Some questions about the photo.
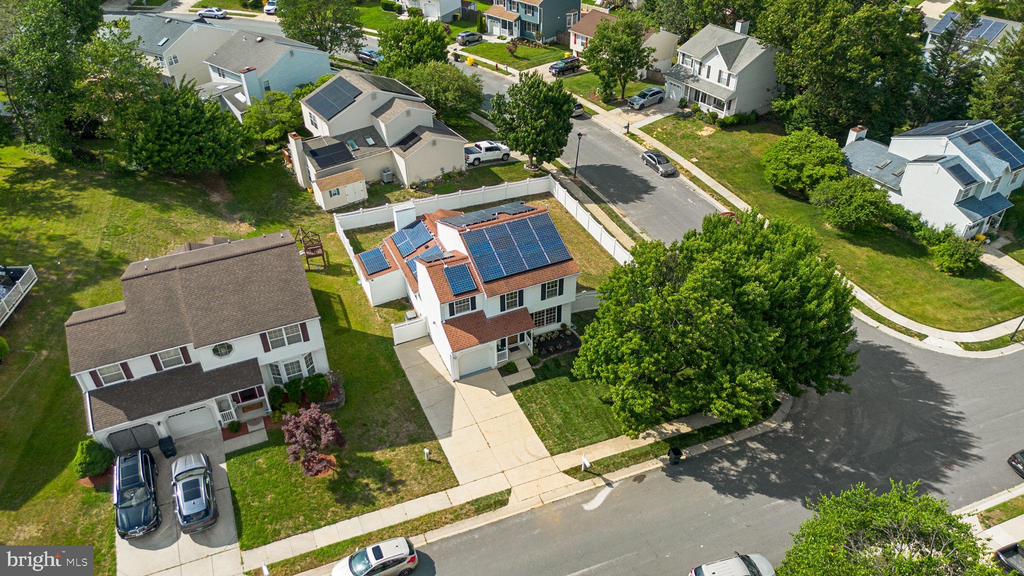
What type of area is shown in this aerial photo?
residential area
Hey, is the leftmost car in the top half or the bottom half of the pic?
bottom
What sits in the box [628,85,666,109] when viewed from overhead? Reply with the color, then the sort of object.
gray car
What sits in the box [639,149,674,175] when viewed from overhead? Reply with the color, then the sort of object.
gray car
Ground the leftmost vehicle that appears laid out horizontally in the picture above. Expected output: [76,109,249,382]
[196,8,229,20]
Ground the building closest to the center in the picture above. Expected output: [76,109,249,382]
[353,202,582,382]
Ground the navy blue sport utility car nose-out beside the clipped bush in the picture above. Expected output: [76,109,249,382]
[111,453,160,538]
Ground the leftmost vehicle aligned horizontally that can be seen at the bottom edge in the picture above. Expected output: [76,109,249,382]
[332,537,420,576]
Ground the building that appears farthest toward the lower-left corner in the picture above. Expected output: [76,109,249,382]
[66,227,328,459]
